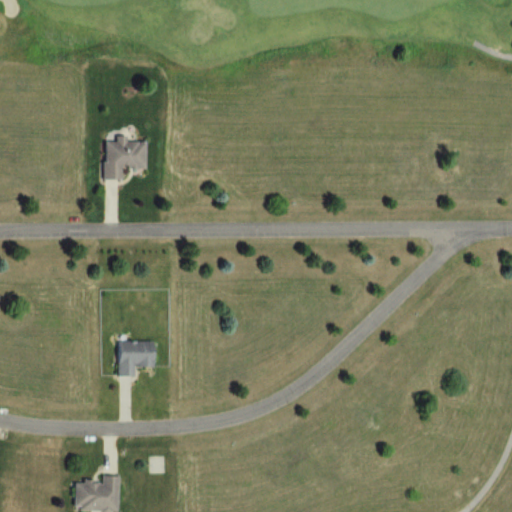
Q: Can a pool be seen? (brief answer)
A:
No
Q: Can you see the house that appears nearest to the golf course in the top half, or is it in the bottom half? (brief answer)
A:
top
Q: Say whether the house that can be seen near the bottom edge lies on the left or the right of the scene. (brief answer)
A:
left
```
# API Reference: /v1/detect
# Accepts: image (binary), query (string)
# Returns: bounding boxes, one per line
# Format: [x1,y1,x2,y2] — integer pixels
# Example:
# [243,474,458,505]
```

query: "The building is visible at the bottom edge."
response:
[76,476,120,512]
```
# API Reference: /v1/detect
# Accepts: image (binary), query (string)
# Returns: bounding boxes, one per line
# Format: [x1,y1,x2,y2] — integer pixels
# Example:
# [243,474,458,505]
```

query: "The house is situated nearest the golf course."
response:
[104,136,147,178]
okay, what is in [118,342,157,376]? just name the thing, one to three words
house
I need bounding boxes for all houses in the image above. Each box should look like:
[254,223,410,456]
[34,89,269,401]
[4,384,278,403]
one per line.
[118,342,157,376]
[104,136,147,178]
[76,476,120,512]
